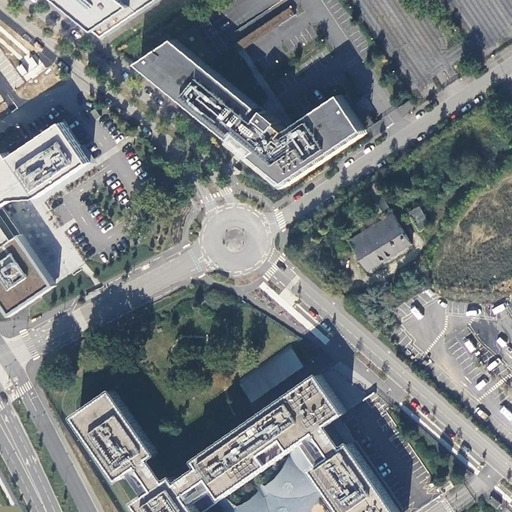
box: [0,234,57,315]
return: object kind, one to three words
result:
building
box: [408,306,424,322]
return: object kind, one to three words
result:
vehicle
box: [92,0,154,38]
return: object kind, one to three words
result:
building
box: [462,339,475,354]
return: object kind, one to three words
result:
vehicle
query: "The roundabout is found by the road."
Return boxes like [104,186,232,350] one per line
[198,203,273,278]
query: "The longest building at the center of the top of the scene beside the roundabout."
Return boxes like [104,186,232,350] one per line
[131,40,368,190]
